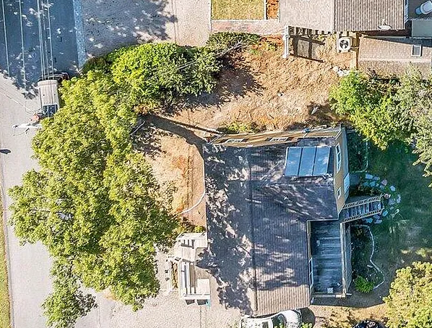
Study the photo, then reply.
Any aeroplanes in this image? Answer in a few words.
No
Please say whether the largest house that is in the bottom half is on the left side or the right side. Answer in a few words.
right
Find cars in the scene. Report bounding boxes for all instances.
[237,302,308,328]
[34,61,74,126]
[358,319,386,328]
